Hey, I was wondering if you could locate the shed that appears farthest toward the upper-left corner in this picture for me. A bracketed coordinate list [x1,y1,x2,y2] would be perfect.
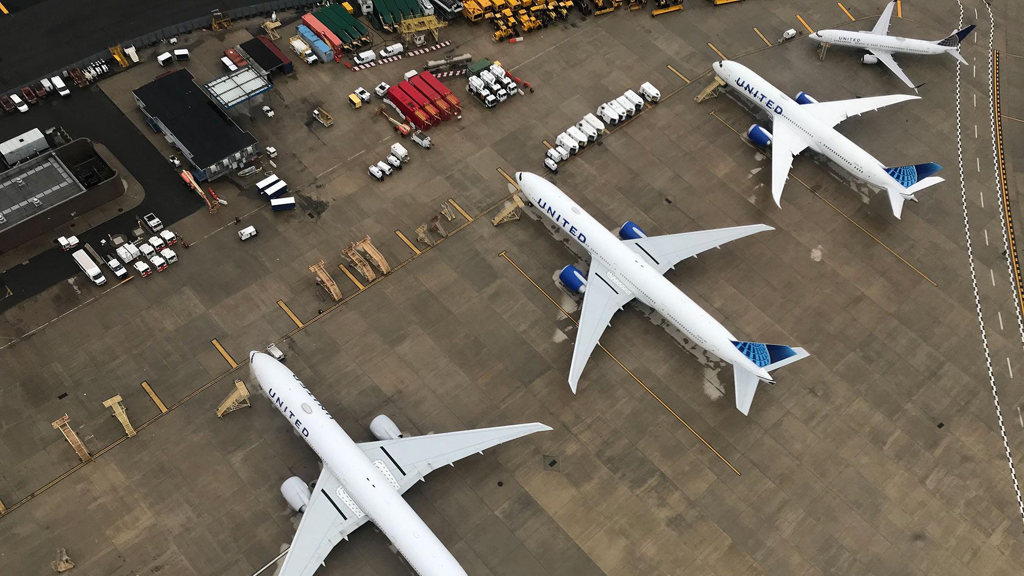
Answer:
[0,128,49,171]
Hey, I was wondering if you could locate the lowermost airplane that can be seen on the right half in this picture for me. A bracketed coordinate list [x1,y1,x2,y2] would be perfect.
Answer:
[514,174,811,416]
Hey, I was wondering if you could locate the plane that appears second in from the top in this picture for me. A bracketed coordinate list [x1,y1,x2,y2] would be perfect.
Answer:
[712,61,944,220]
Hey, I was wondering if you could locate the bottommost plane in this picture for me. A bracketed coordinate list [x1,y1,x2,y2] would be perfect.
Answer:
[248,353,553,576]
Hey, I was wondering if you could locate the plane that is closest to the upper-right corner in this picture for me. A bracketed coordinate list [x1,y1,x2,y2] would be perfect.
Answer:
[809,0,976,92]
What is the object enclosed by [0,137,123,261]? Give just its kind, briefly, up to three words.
building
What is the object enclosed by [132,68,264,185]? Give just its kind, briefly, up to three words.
shed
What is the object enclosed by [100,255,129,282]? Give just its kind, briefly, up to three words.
truck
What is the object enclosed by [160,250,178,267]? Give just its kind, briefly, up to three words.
work vehicle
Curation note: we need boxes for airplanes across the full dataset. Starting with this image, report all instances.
[514,174,811,416]
[712,61,944,220]
[809,0,976,92]
[248,353,553,576]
